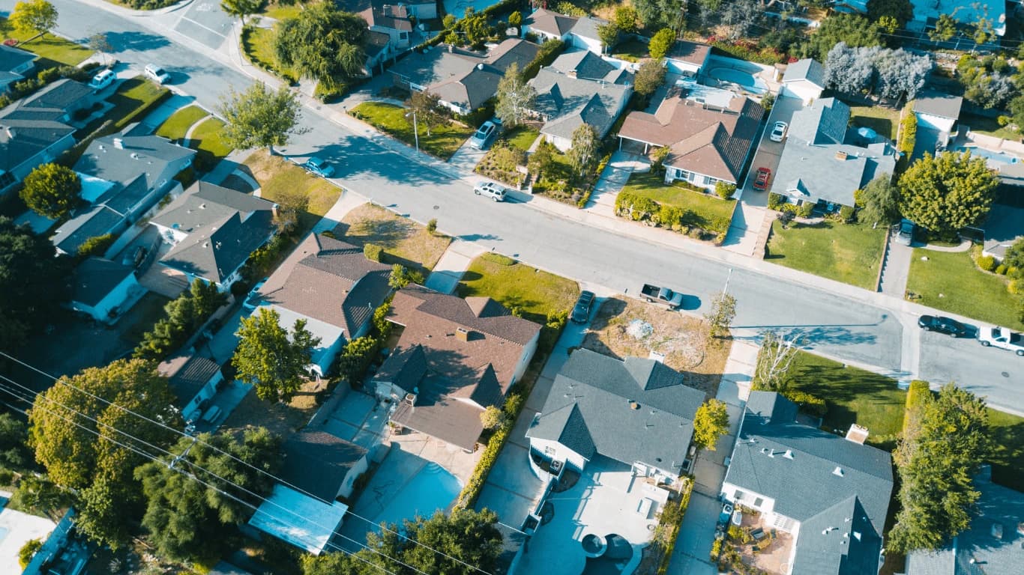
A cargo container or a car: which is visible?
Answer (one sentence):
This aerial view contains a car.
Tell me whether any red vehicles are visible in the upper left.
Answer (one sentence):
No, there's no red vehicle to be seen in the upper left.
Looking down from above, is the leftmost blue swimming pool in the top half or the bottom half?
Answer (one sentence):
The bottom half of the photo is where the leftmost blue swimming pool is.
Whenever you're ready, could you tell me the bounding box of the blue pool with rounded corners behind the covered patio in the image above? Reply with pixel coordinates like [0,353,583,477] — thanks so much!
[353,456,466,573]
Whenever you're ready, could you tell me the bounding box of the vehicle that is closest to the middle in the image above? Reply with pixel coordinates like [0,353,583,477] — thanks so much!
[567,288,598,326]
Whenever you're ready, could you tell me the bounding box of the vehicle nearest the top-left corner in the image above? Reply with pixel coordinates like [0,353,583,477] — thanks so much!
[88,65,122,91]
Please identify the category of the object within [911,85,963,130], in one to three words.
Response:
building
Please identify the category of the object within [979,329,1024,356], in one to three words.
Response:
truck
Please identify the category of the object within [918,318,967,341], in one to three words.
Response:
car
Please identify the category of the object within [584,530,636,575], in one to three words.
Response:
swimming pool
